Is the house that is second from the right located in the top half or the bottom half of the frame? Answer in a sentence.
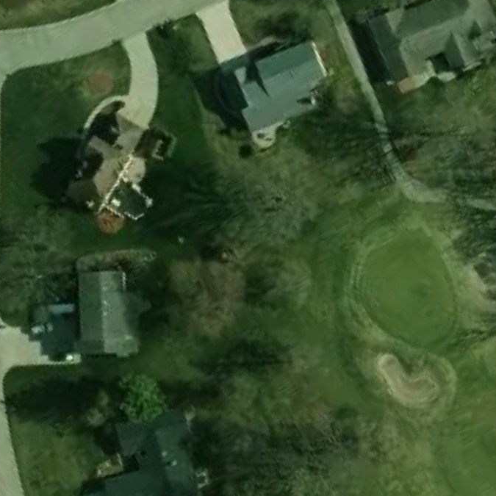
The top half of the photo is where the house that is second from the right is.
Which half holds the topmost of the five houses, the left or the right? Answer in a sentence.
The topmost of the five houses sits on the right side.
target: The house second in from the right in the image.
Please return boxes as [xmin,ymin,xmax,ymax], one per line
[234,40,338,134]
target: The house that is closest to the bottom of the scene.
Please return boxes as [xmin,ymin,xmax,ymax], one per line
[104,411,202,496]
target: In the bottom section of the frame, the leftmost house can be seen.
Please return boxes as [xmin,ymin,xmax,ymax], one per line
[78,269,130,354]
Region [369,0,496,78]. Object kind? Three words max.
house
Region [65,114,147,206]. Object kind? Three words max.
house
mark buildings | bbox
[369,0,496,78]
[234,40,338,134]
[104,411,202,496]
[65,114,147,206]
[78,269,130,354]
